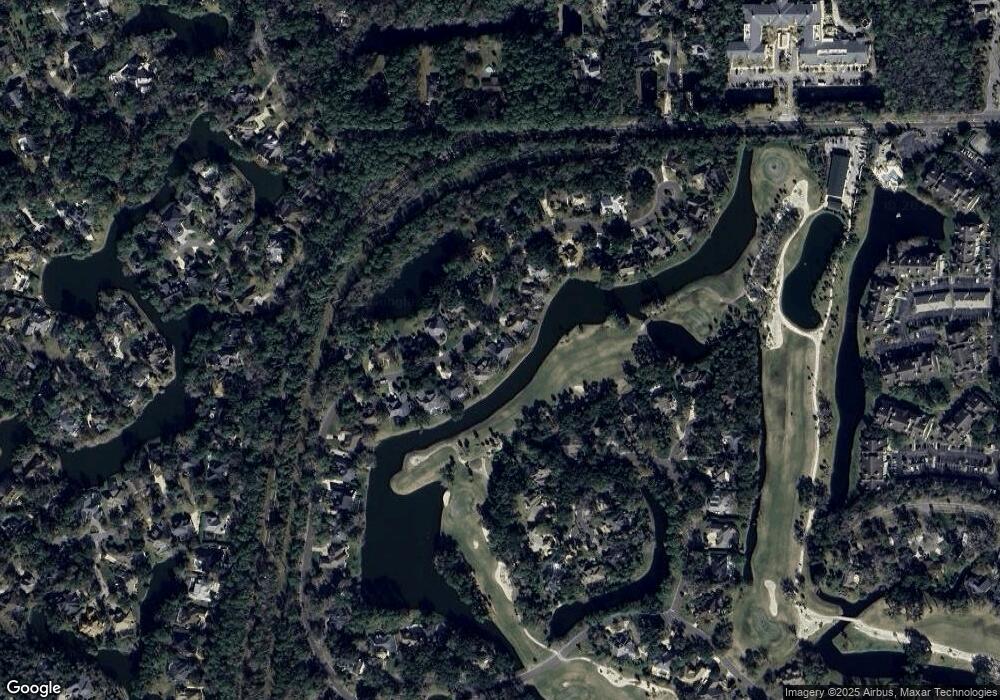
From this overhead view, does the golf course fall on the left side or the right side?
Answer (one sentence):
It is on the right.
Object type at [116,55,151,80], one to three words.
house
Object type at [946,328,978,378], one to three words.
building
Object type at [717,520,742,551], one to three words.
house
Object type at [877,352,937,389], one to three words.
building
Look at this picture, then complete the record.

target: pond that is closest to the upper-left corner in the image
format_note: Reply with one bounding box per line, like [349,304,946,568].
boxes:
[124,5,229,57]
